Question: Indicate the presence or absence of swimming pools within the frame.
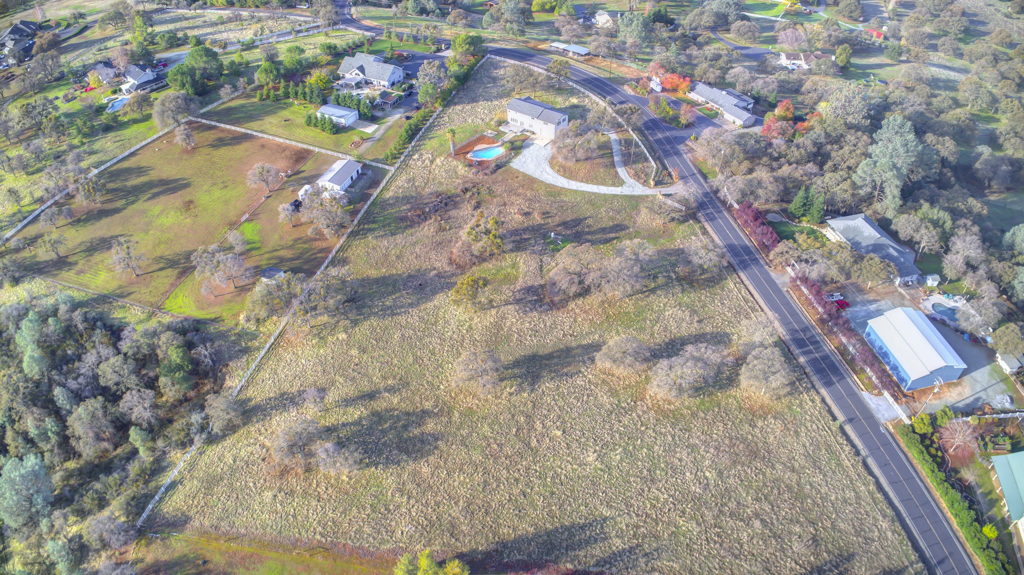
Yes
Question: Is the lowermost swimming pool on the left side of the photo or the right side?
right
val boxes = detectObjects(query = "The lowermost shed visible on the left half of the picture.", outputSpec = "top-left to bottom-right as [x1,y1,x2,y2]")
[259,261,284,282]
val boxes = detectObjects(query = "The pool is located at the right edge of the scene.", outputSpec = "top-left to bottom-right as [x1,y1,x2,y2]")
[921,295,995,339]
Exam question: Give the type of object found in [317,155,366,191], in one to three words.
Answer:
barn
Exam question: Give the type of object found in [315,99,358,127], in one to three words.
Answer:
building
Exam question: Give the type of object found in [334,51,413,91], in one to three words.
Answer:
house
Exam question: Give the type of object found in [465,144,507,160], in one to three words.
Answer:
swimming pool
